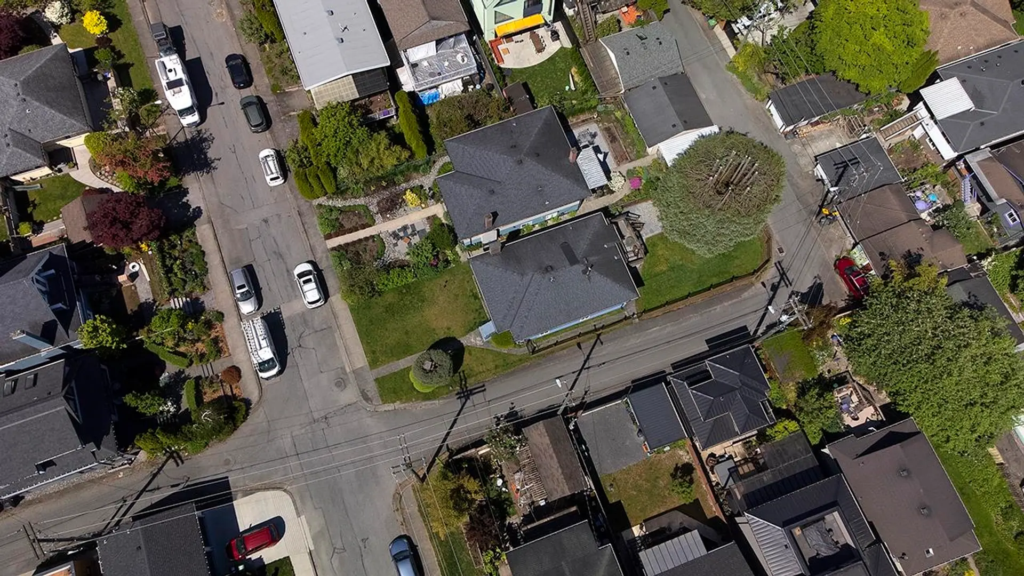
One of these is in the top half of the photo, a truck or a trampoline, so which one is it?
truck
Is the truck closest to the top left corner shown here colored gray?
Yes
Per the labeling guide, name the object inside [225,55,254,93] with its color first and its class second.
black car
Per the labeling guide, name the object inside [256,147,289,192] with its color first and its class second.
white car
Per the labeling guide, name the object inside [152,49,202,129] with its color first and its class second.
white camper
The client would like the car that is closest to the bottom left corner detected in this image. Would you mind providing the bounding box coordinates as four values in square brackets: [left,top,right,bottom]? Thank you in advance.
[227,517,286,558]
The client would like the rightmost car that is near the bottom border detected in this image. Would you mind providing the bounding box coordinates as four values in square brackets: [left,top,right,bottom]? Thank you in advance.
[387,531,425,576]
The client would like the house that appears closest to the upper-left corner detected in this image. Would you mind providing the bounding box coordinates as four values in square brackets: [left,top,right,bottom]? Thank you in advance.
[0,43,97,191]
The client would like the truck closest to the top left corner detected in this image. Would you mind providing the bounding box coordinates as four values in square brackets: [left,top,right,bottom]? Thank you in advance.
[142,13,179,56]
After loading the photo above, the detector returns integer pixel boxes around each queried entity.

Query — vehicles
[225,55,254,93]
[229,267,261,316]
[293,260,328,312]
[227,517,286,558]
[232,312,285,387]
[152,49,202,129]
[387,531,425,576]
[142,13,179,56]
[239,95,271,138]
[256,147,289,192]
[829,254,878,311]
